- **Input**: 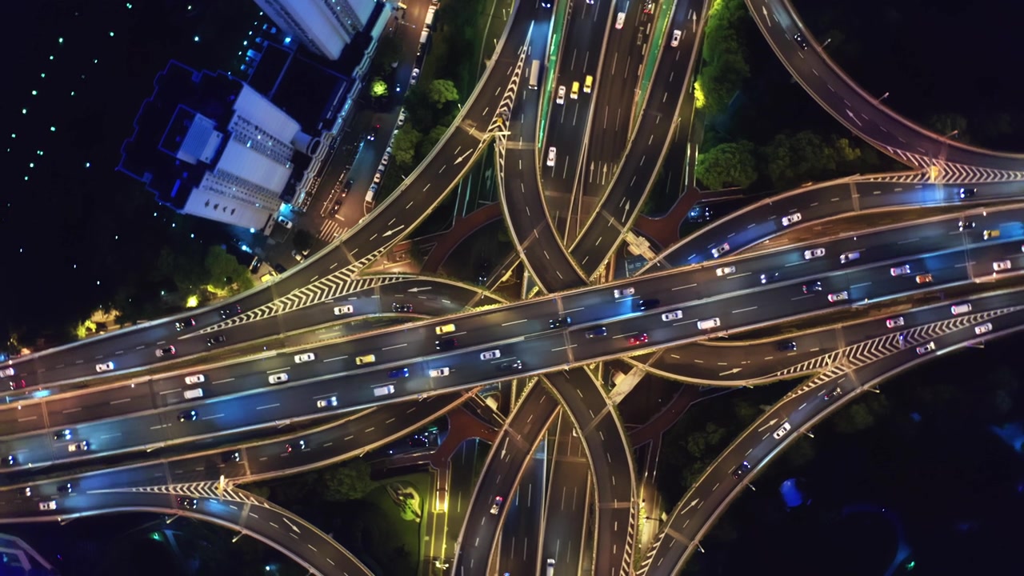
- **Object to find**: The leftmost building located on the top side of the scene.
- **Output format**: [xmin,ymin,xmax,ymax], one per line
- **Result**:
[113,58,301,240]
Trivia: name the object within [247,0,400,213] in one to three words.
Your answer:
building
